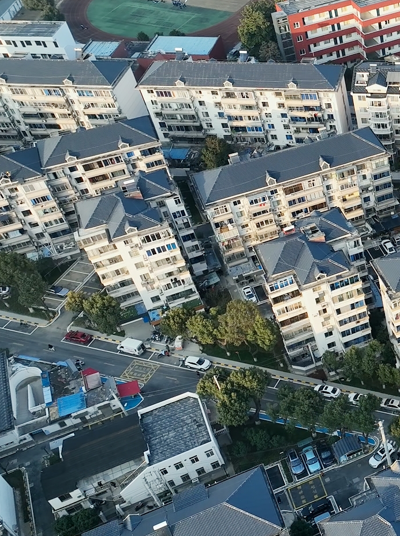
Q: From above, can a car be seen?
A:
Yes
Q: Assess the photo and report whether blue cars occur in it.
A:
Yes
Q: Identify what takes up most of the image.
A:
buildings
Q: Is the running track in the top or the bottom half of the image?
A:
top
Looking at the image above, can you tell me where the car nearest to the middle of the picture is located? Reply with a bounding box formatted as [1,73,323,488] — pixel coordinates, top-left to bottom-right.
[240,285,258,303]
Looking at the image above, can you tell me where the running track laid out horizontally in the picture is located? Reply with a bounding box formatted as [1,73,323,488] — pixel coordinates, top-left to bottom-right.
[62,0,250,65]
